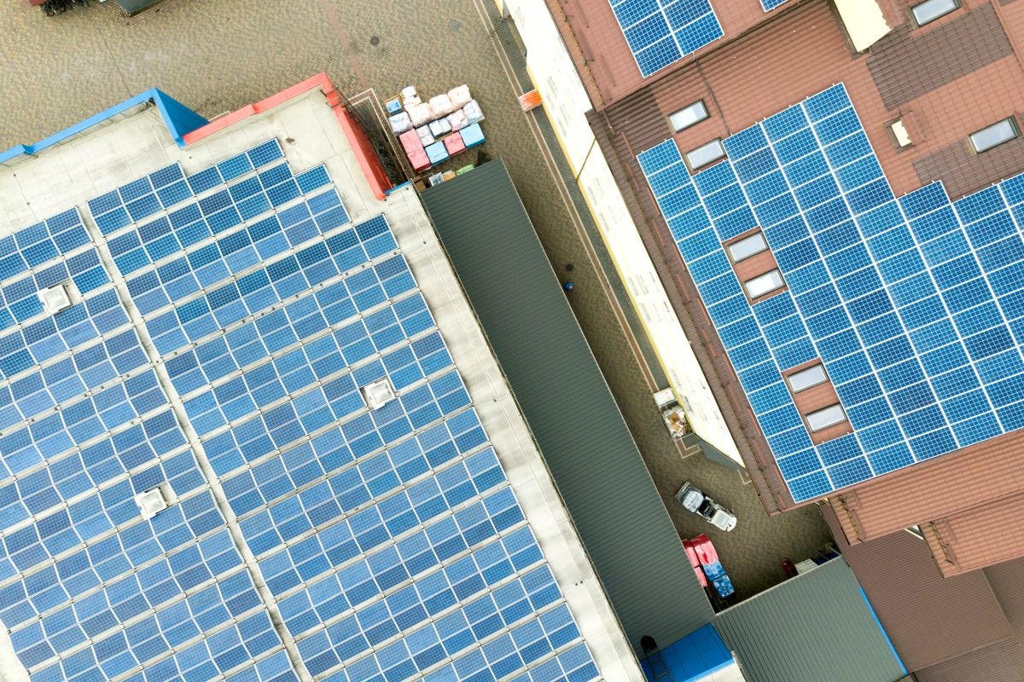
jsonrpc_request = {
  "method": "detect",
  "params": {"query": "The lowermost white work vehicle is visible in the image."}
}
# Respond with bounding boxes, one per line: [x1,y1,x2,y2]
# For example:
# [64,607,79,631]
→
[697,496,739,532]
